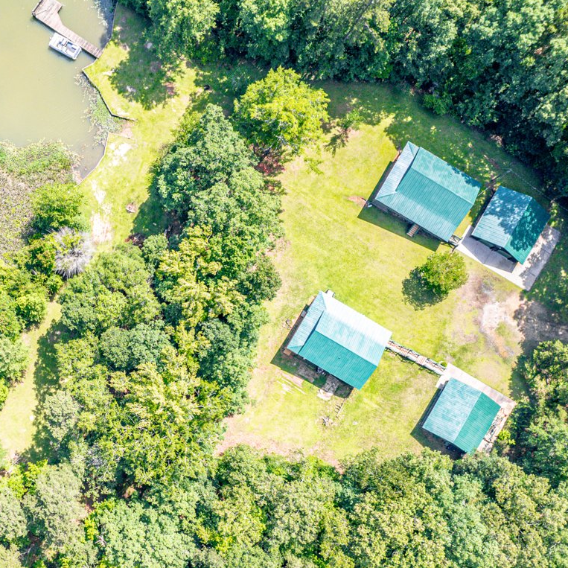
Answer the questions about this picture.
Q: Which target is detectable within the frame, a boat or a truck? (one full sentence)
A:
Of the two, only a boat appears.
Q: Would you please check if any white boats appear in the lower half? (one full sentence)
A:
No, in the lower half there is no white boat.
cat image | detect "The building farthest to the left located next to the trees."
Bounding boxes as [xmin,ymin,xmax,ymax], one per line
[276,287,393,389]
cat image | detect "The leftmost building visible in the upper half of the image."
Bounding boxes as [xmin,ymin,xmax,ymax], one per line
[369,141,482,242]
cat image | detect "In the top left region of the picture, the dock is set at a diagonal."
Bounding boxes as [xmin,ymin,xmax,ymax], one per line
[33,0,102,57]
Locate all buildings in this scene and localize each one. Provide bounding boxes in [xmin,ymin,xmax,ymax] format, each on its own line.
[369,141,482,242]
[467,186,551,264]
[276,287,393,389]
[419,377,502,456]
